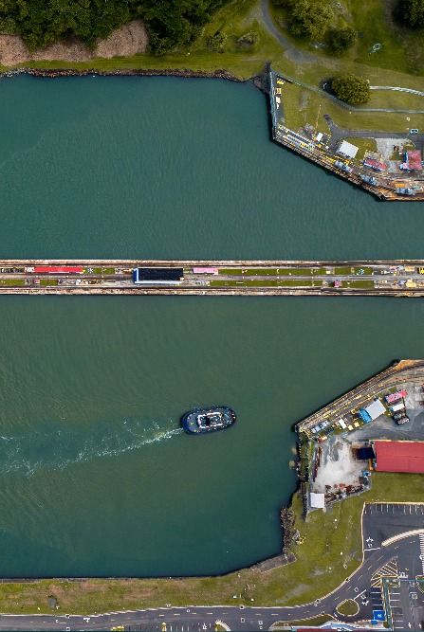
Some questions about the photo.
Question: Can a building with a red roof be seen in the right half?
Yes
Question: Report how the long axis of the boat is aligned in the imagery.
from left to right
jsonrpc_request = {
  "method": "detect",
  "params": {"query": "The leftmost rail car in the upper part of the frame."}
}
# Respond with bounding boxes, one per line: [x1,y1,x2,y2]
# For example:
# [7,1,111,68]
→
[332,161,352,174]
